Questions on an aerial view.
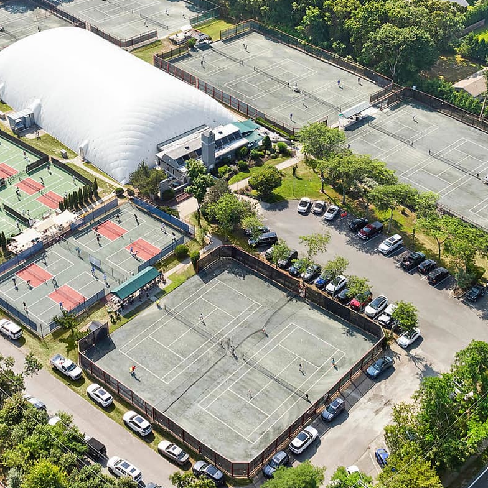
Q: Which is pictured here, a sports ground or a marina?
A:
sports ground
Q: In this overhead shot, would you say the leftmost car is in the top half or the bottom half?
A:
bottom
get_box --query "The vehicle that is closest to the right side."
[465,281,488,301]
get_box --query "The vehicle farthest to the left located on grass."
[0,319,23,340]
